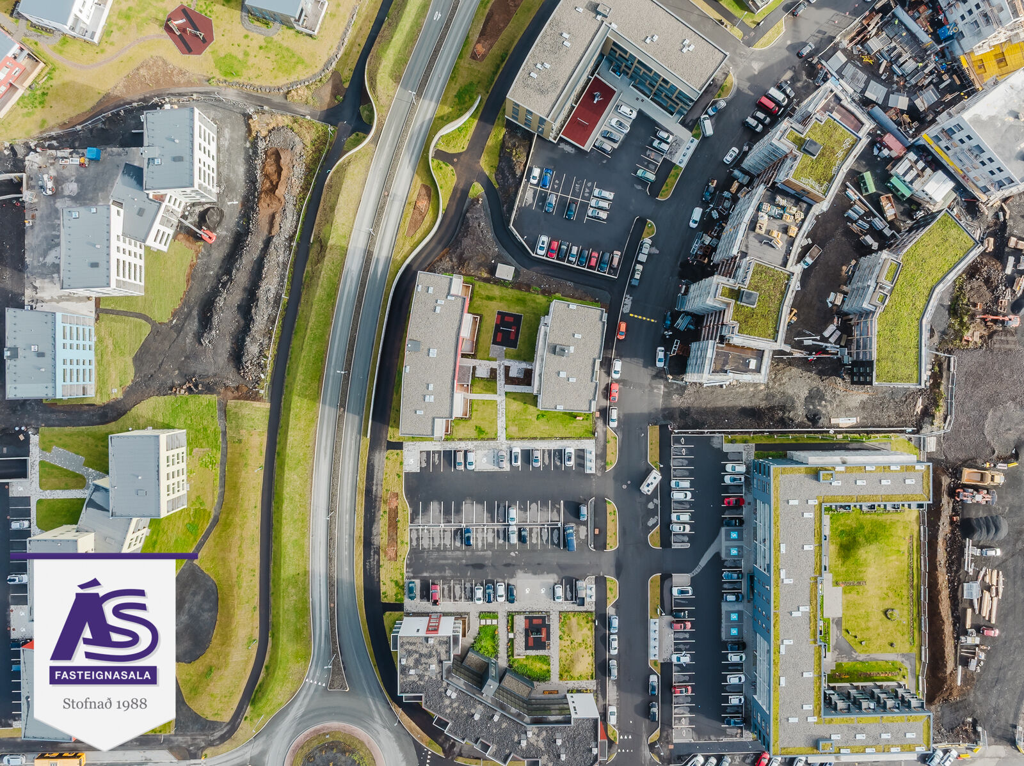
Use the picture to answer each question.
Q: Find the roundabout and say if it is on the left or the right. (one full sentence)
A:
You can find the roundabout on the left side of the picture.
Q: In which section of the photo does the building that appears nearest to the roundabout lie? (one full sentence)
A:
The building that appears nearest to the roundabout is in the bottom part of the image.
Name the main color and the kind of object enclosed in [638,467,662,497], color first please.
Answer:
white camper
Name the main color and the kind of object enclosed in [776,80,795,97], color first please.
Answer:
gray car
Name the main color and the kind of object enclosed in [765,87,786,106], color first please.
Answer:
white vehicle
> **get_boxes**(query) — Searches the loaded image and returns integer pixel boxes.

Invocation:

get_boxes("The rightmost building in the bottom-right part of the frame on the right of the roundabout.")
[751,450,934,763]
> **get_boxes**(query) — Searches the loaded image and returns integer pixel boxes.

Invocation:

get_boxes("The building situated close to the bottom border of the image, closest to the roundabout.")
[391,617,608,766]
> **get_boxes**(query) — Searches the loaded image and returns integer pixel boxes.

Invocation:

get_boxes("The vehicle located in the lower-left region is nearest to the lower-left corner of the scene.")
[5,753,26,765]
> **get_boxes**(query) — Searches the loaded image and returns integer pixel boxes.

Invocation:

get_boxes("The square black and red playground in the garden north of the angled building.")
[524,616,546,651]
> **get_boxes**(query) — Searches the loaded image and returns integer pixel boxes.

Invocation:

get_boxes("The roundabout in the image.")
[221,675,461,766]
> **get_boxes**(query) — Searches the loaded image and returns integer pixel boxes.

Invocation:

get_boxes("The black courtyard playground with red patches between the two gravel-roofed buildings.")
[492,310,523,349]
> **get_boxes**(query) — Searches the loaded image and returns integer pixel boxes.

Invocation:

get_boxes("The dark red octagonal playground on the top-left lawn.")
[163,3,214,55]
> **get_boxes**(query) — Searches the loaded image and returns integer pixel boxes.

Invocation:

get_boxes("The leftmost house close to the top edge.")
[0,29,53,129]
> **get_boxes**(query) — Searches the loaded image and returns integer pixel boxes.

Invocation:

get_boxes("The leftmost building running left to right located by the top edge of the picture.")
[19,0,118,46]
